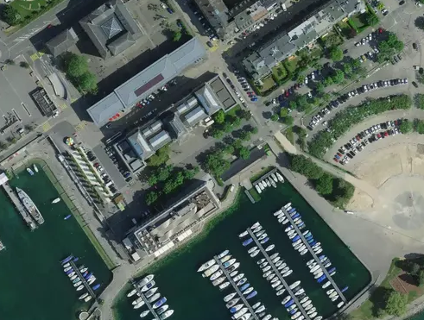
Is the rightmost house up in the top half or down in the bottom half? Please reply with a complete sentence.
Seen from above, the rightmost house lies in the top half of the view.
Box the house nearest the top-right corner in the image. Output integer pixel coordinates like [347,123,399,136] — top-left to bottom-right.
[318,0,364,28]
